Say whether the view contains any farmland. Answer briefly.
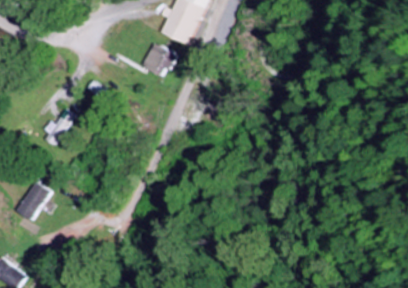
No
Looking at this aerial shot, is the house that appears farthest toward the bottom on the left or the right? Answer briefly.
left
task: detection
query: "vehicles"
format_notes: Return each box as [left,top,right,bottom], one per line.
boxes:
[108,80,118,89]
[154,4,166,15]
[108,53,118,62]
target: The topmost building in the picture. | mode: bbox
[159,0,212,44]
